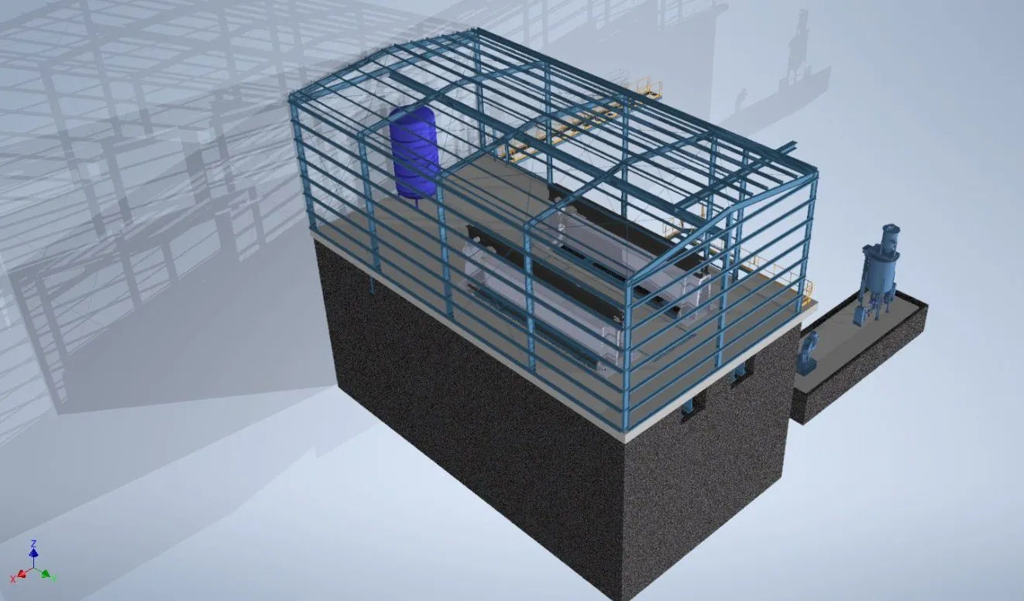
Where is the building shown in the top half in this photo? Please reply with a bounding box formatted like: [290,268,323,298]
[290,24,819,436]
